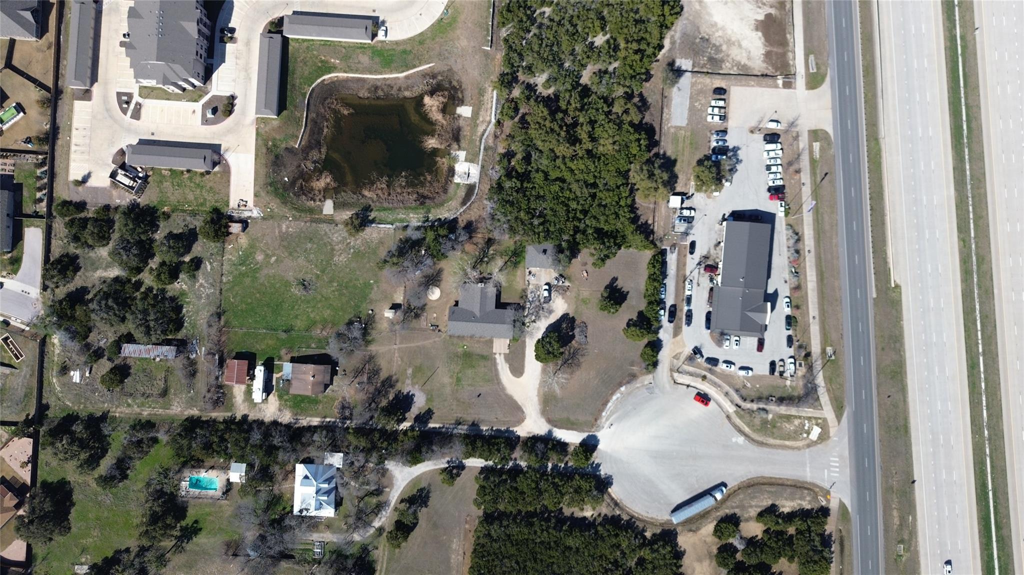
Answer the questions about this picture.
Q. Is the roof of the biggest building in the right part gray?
Yes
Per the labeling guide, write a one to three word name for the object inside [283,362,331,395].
house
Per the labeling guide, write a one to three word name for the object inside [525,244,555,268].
building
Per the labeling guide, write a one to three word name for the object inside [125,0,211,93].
building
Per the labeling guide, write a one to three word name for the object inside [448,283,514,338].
house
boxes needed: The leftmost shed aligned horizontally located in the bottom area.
[121,344,178,359]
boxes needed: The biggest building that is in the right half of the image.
[710,221,771,338]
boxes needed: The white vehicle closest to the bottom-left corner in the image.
[251,366,264,401]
